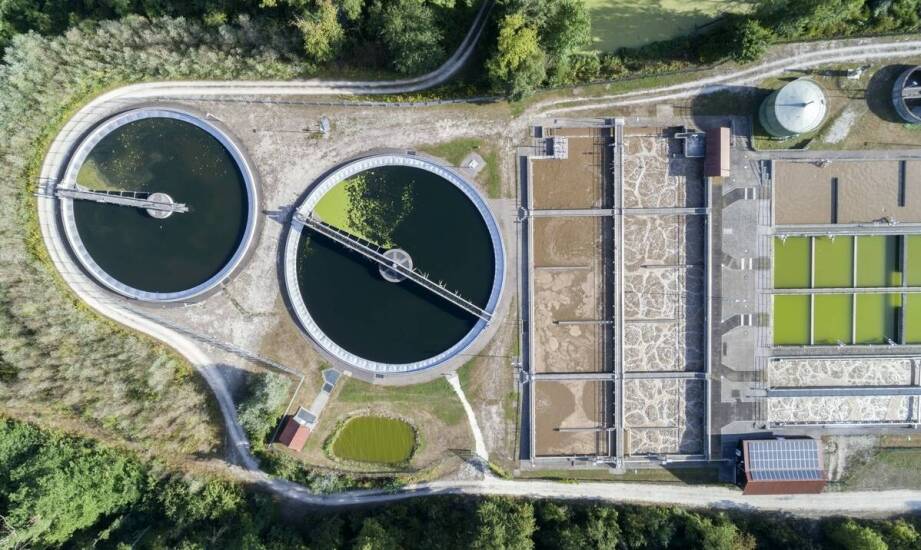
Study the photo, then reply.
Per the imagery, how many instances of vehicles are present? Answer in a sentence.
No vehicles are visible.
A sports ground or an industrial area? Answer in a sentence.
This image shows an industrial area.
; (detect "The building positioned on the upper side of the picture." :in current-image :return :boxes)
[705,125,729,177]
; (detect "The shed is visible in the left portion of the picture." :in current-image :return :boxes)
[279,417,311,451]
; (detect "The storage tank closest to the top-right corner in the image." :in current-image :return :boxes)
[891,66,921,128]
